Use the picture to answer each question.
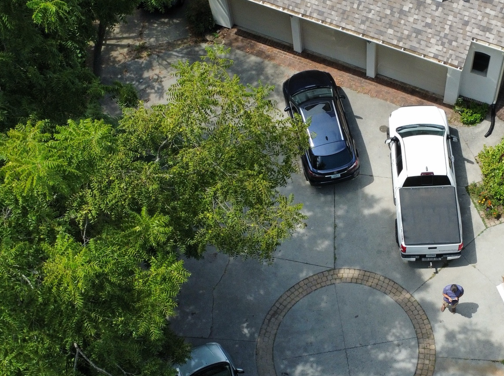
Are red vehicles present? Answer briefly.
No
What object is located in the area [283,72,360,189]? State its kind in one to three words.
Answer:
car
